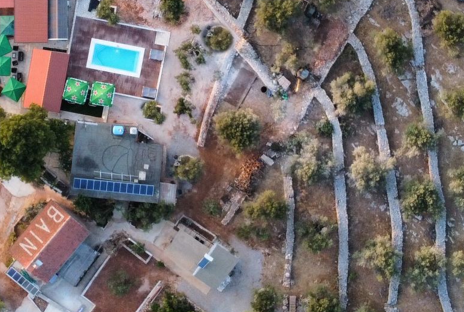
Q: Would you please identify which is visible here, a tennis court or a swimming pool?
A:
swimming pool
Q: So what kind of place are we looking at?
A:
residential area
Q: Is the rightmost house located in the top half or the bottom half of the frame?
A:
bottom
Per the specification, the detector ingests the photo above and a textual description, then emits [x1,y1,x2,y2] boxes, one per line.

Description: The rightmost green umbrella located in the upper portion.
[90,82,115,108]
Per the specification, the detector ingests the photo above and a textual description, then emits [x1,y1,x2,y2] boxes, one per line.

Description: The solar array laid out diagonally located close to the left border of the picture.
[6,265,40,296]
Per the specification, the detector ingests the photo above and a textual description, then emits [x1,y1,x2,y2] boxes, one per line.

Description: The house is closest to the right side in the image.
[157,214,240,294]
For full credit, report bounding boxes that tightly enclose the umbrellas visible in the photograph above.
[90,82,115,108]
[0,58,12,76]
[2,78,26,100]
[0,35,12,54]
[64,78,89,106]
